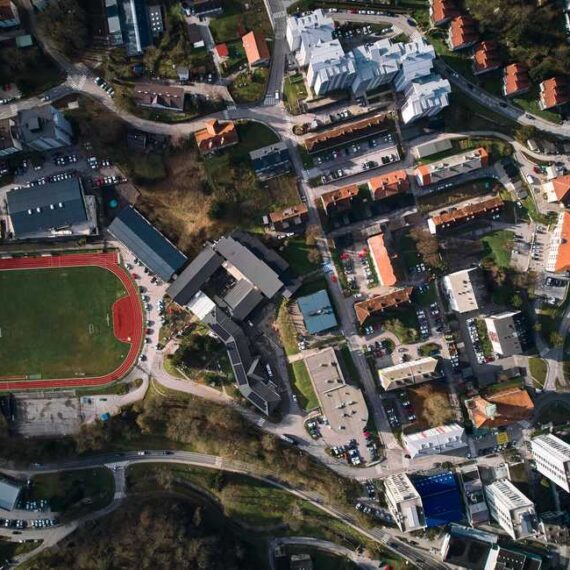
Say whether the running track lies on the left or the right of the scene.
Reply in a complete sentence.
It is on the left.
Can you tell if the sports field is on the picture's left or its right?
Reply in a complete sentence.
The sports field sits on the left side.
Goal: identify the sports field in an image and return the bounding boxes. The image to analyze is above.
[0,266,130,384]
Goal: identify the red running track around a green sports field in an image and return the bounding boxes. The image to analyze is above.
[0,253,143,390]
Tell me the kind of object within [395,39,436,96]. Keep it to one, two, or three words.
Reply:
building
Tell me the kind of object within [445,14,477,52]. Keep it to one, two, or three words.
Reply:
house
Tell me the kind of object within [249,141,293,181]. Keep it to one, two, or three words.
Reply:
house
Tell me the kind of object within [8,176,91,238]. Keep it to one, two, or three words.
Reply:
building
